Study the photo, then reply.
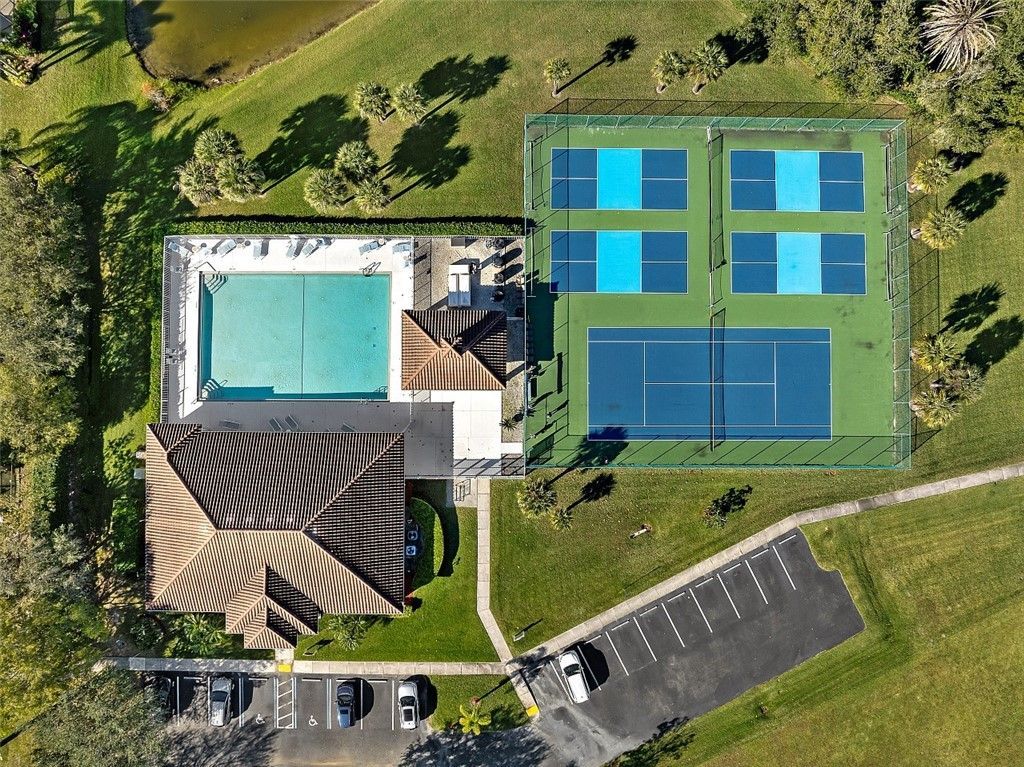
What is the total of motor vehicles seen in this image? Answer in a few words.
5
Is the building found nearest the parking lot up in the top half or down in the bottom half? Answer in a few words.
bottom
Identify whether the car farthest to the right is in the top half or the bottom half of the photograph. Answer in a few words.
bottom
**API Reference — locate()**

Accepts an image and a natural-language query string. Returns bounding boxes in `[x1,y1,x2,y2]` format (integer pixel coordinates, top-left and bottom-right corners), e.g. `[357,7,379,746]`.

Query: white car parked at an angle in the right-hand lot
[560,649,590,705]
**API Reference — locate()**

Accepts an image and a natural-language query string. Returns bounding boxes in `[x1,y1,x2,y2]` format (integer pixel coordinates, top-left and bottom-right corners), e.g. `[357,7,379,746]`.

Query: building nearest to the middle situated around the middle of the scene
[400,308,508,391]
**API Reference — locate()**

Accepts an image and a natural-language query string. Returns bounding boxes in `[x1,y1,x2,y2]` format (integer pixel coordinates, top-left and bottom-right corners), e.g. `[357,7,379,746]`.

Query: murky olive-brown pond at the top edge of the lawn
[131,0,379,84]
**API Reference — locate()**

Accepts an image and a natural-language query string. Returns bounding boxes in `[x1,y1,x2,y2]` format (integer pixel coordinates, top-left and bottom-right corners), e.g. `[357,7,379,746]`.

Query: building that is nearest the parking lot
[142,422,405,650]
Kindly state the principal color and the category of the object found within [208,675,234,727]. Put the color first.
gray car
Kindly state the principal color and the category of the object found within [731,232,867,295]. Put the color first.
blue sports court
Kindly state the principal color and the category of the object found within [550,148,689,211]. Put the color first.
blue sports court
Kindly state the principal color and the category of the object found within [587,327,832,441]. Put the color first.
blue tennis court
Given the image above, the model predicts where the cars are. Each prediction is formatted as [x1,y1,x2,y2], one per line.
[334,680,356,728]
[149,672,175,722]
[560,649,590,705]
[396,678,420,730]
[208,675,234,727]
